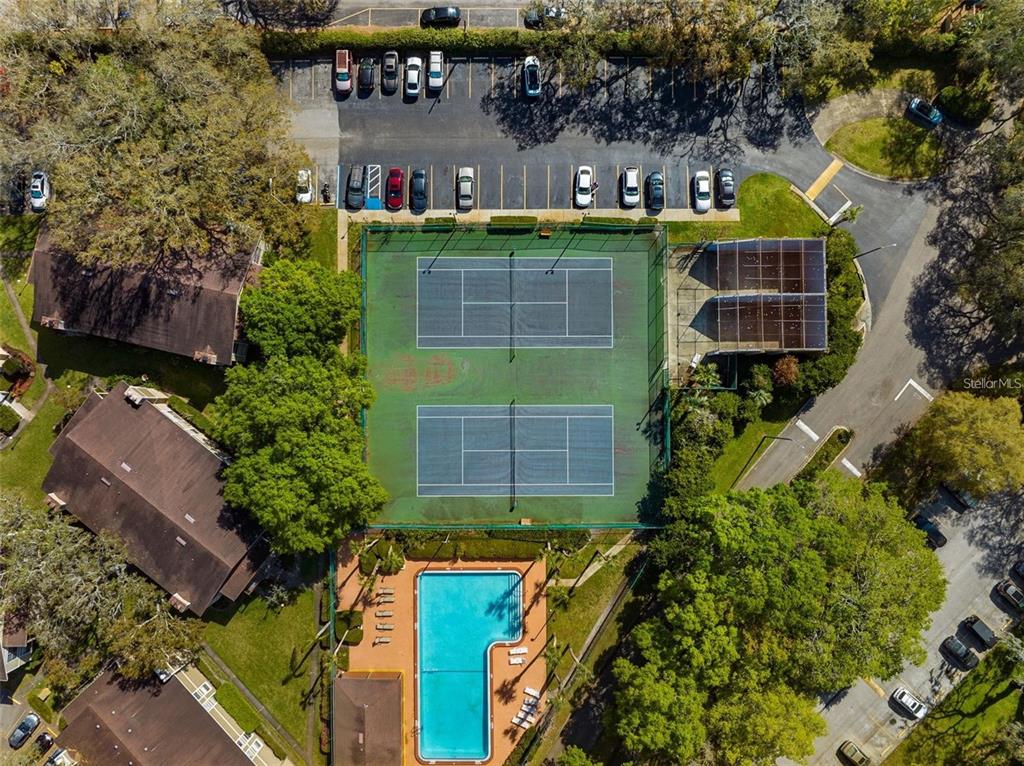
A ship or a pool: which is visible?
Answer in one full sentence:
I can see a pool in this picture.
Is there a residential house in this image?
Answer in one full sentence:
Yes, this view includes a residential house.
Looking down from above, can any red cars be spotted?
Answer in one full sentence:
Yes, looking at the shot, I can spot a red car.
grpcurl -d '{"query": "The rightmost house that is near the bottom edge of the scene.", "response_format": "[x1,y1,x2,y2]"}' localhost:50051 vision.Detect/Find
[332,671,402,766]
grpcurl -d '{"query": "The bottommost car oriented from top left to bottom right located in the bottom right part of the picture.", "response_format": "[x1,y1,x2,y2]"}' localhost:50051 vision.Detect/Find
[836,736,873,766]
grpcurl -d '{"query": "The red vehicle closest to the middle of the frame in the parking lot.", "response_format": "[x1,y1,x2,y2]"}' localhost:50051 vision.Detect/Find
[386,168,405,210]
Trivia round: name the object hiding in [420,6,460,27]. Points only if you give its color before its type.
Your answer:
black car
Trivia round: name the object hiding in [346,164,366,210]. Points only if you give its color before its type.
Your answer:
gray car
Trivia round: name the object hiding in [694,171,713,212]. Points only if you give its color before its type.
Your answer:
white car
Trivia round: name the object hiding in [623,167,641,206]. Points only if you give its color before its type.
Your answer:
white car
